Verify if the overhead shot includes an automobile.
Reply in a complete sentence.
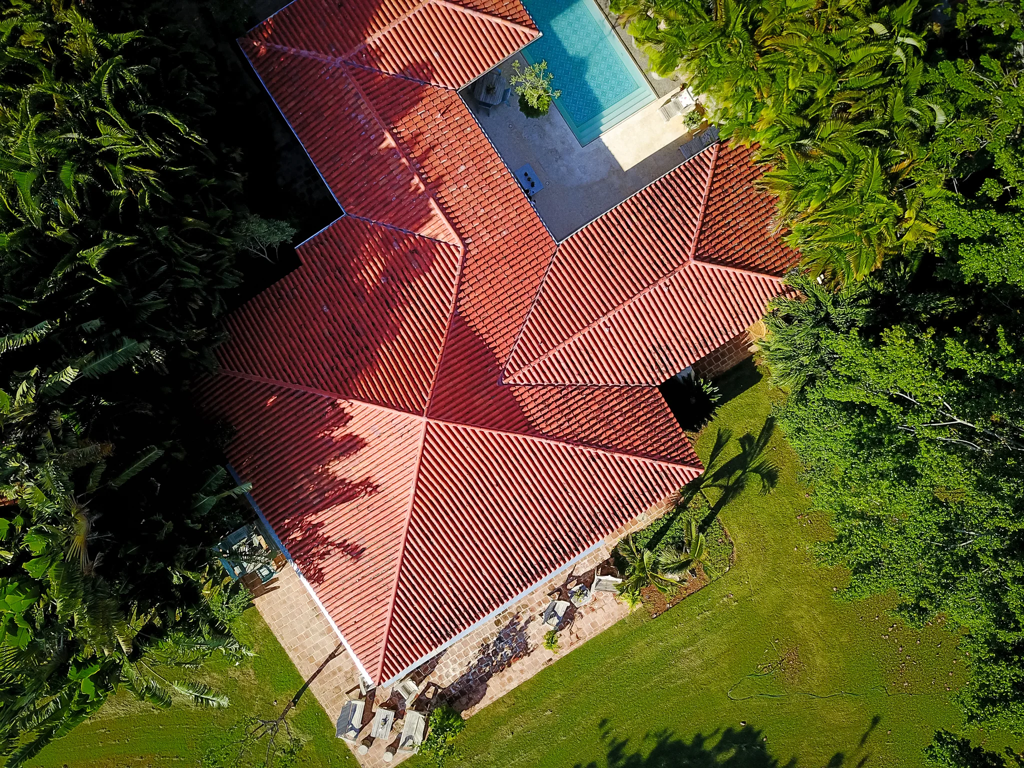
No, the picture doesn't show any automobile.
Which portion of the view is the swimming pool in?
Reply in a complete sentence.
The swimming pool appears toward the top of the photo.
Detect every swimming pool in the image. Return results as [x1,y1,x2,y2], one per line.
[520,0,671,151]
